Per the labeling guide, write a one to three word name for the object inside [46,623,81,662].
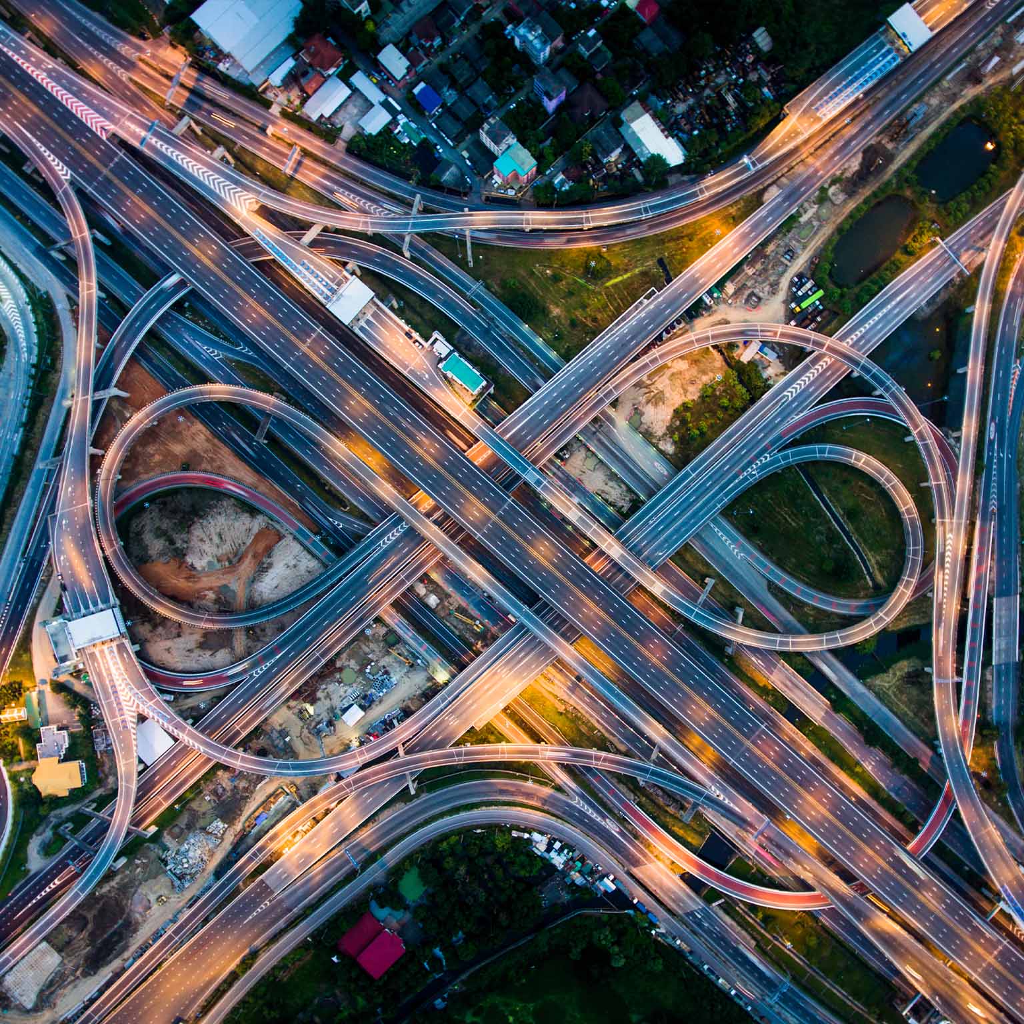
building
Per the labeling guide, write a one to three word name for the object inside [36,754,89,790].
house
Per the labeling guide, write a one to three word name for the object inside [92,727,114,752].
shed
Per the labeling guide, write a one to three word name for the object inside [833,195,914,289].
pond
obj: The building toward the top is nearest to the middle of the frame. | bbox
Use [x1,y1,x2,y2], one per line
[428,335,493,397]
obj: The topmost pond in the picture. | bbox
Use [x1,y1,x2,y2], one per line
[919,117,999,204]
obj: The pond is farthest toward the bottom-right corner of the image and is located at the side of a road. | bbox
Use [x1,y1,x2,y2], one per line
[781,618,932,723]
